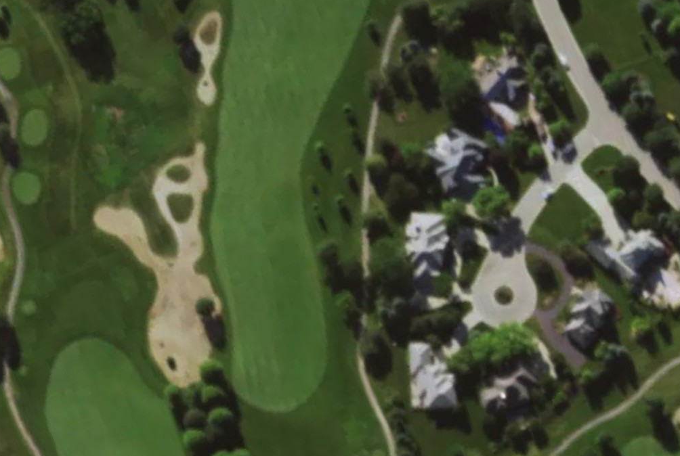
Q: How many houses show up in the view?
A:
seven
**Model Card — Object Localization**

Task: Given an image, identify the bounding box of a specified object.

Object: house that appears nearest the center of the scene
[408,208,454,295]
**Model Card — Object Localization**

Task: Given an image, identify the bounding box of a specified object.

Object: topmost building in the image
[470,50,533,117]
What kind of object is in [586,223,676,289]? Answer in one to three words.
house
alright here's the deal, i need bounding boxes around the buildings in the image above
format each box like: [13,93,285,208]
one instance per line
[470,50,533,117]
[559,282,619,351]
[474,362,549,423]
[586,223,676,289]
[408,208,454,295]
[405,340,459,417]
[428,122,493,197]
